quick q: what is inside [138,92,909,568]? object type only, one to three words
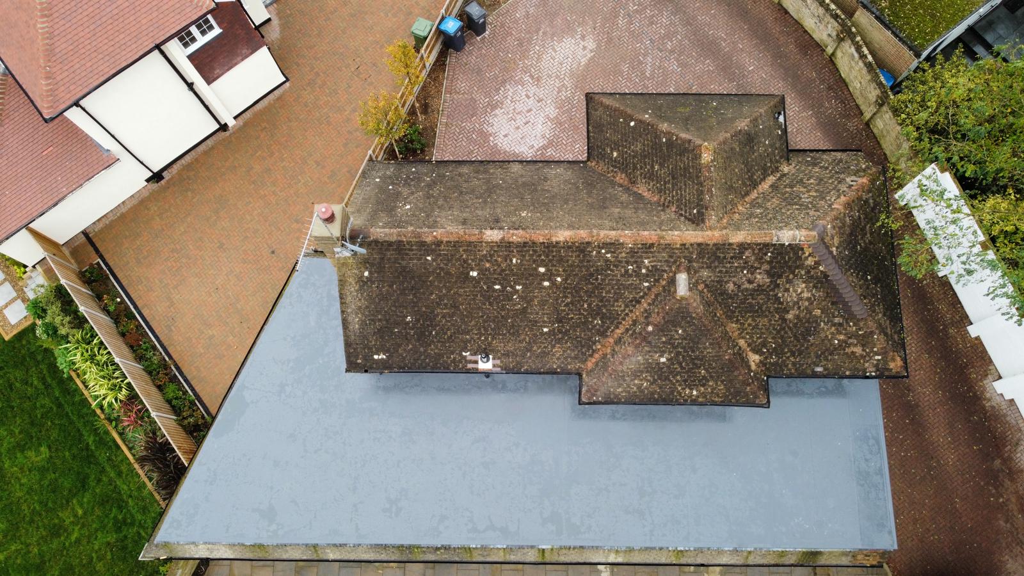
house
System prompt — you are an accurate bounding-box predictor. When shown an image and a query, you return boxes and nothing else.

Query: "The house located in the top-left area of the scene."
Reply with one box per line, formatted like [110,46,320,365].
[0,0,289,266]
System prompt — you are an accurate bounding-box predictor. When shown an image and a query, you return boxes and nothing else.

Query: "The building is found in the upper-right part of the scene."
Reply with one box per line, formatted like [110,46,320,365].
[830,0,1014,85]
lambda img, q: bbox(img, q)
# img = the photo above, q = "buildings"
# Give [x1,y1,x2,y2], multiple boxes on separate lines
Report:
[138,92,909,568]
[830,0,1014,85]
[0,0,289,266]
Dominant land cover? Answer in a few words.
buildings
